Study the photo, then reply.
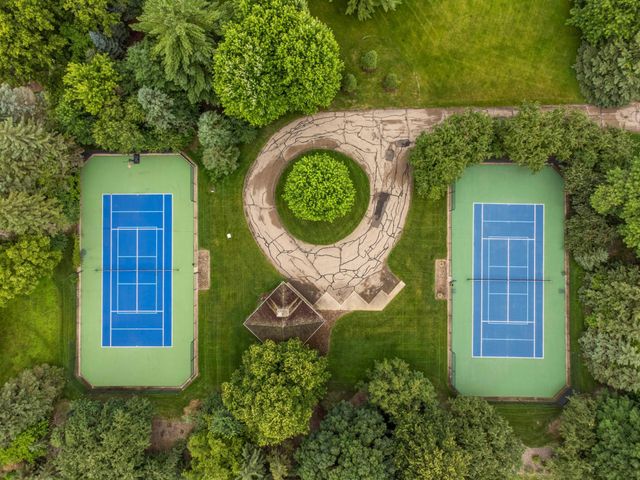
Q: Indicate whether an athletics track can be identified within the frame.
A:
No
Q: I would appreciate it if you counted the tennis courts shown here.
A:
2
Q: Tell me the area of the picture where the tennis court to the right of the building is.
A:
right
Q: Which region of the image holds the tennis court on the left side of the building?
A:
left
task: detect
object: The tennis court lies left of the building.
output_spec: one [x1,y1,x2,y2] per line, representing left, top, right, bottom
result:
[76,151,198,391]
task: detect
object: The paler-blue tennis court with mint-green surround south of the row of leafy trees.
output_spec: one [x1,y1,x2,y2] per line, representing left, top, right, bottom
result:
[447,161,569,401]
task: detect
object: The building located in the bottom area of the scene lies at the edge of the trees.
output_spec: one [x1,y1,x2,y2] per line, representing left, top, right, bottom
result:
[243,279,327,358]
